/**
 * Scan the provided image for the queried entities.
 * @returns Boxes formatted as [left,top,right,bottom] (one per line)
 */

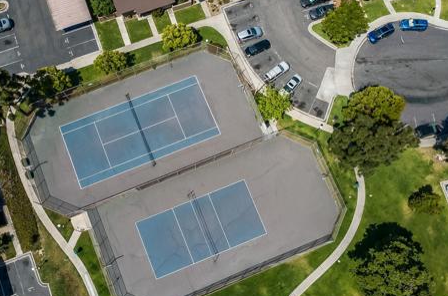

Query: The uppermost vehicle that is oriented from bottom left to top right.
[307,2,333,21]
